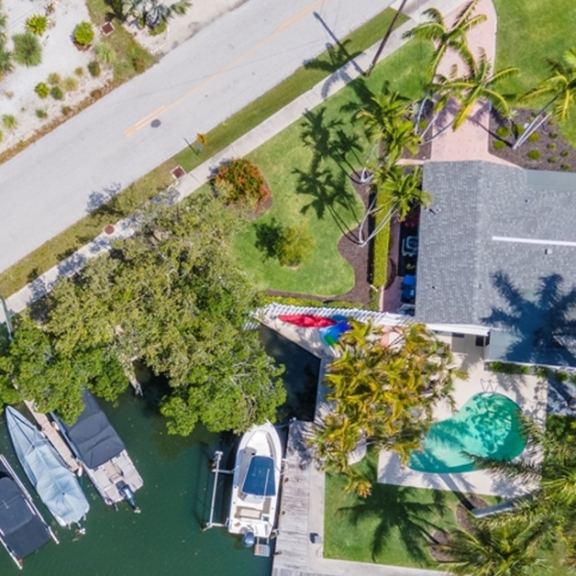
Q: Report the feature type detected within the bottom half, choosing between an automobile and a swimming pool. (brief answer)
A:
swimming pool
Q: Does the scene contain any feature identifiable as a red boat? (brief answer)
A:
Yes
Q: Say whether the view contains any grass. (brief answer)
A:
Yes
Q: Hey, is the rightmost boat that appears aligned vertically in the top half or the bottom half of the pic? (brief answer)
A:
bottom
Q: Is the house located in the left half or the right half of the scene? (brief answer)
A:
right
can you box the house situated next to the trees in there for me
[405,161,576,387]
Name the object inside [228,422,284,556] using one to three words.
boat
